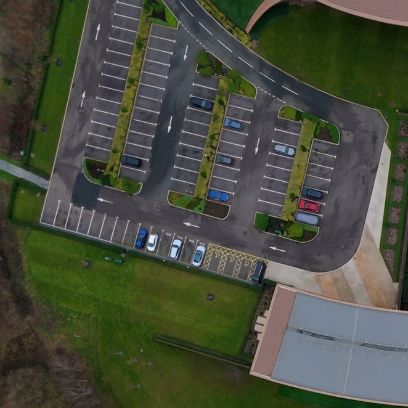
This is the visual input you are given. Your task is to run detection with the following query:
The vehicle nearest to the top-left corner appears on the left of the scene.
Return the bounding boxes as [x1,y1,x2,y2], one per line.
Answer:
[121,155,143,168]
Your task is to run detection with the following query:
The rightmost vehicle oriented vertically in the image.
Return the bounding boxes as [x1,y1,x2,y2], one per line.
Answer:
[253,260,266,283]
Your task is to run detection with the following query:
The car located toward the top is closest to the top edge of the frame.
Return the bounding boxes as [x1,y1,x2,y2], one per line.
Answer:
[191,97,213,110]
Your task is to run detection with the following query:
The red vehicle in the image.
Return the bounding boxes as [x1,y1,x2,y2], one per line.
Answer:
[299,200,320,213]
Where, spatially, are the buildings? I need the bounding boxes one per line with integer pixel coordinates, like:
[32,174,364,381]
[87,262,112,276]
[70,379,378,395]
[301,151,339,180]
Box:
[314,0,408,27]
[250,284,408,406]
